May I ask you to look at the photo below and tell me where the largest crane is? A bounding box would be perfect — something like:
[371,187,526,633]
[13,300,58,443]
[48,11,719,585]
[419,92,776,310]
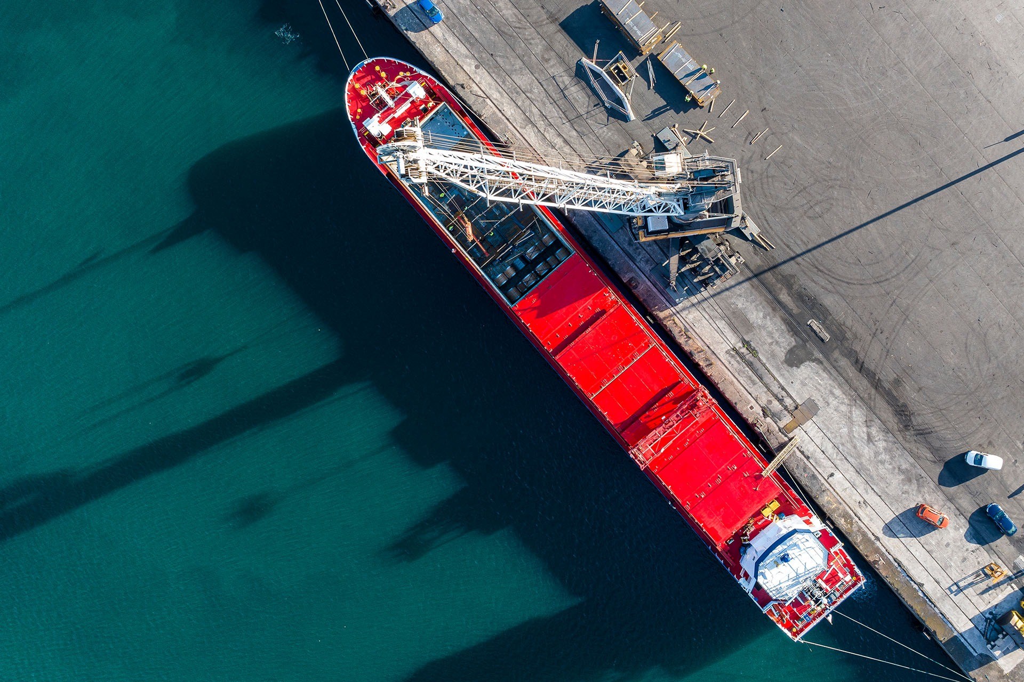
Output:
[376,111,759,293]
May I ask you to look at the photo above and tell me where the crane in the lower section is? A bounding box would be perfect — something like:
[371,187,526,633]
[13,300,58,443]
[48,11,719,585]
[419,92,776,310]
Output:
[620,378,725,477]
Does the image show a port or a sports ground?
port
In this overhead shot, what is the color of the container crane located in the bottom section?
red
